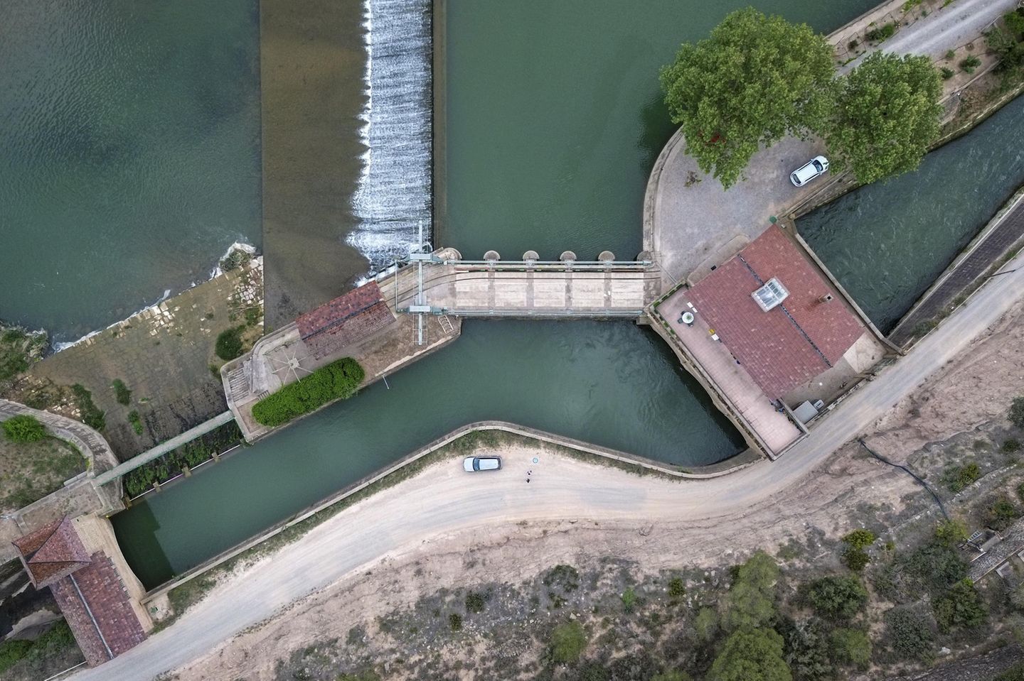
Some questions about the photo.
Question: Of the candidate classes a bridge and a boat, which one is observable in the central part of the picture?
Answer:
bridge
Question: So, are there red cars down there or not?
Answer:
No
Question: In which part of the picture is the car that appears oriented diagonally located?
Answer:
top right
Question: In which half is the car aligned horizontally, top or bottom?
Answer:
bottom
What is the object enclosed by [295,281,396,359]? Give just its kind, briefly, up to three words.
shed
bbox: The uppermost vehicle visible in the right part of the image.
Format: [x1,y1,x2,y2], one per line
[790,155,830,187]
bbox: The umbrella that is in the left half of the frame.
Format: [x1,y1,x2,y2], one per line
[267,341,313,384]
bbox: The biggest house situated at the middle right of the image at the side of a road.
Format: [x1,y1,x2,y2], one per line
[684,224,866,400]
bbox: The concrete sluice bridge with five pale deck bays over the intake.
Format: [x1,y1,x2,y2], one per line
[437,248,663,319]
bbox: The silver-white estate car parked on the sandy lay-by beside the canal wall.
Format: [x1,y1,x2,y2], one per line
[462,455,503,475]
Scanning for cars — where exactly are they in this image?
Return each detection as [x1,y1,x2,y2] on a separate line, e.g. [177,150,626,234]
[462,455,503,475]
[790,155,830,187]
